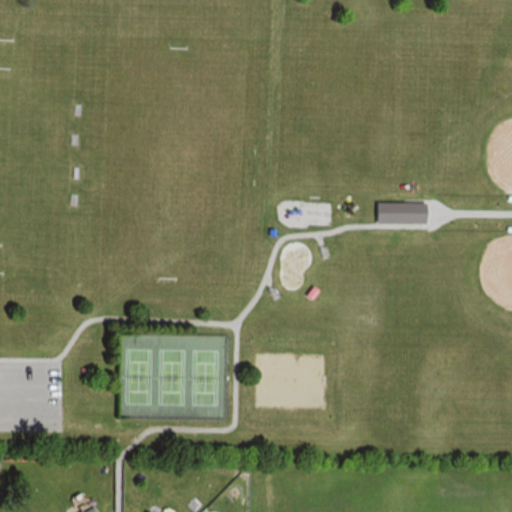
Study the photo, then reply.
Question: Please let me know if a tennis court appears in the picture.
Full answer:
Yes, the frame does contain a tennis court.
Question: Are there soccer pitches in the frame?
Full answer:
Yes, the photo shows a soccer pitch.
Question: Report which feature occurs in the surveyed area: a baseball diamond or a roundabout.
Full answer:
The one in the frame is a baseball diamond.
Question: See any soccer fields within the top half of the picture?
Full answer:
Yes, the scene does show a soccer field within the top half of the picture.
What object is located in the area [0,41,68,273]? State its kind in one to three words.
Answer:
soccer field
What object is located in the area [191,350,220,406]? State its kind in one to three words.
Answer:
tennis court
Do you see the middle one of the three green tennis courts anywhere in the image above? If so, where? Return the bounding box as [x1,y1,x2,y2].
[157,350,187,406]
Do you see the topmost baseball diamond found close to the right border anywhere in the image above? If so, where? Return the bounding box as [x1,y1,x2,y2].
[487,118,512,193]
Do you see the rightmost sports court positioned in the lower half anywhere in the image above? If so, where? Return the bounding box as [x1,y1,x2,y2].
[255,354,325,409]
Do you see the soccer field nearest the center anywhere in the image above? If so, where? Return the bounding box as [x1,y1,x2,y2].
[106,50,244,279]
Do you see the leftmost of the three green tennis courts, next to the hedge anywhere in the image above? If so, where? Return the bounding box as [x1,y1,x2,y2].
[126,349,154,406]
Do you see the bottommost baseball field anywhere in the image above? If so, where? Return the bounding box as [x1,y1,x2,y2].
[480,234,512,314]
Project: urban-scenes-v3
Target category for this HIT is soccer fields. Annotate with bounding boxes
[0,41,68,273]
[106,50,244,279]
